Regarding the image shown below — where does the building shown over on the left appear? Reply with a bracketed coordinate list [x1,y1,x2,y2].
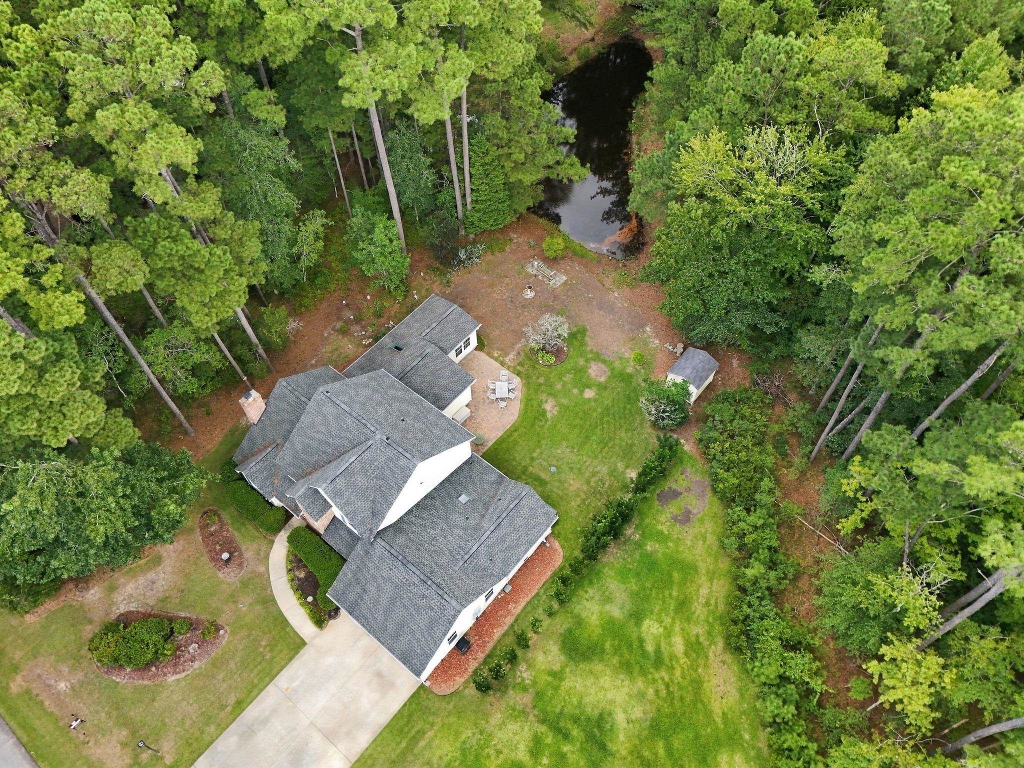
[231,295,560,692]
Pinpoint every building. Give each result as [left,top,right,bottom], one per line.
[667,348,719,407]
[231,295,560,692]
